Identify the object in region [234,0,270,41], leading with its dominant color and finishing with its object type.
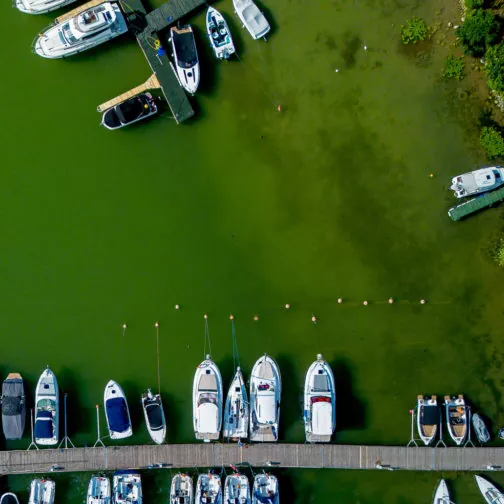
white boat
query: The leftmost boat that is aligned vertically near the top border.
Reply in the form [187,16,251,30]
[170,22,200,98]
